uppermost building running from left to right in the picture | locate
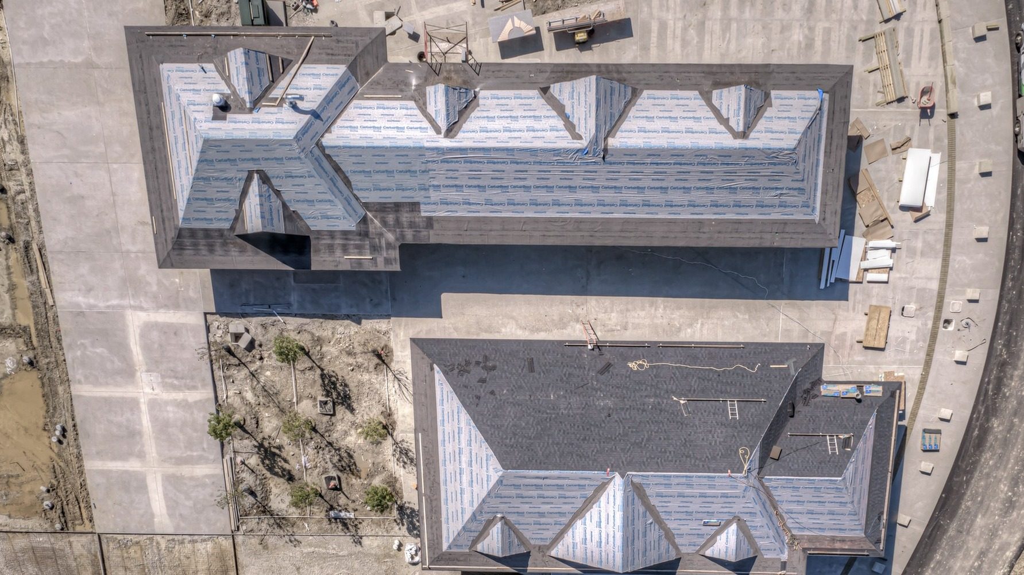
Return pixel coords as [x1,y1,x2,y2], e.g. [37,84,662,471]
[125,26,853,270]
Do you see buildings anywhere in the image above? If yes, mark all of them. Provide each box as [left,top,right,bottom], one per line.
[125,26,853,270]
[411,338,901,575]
